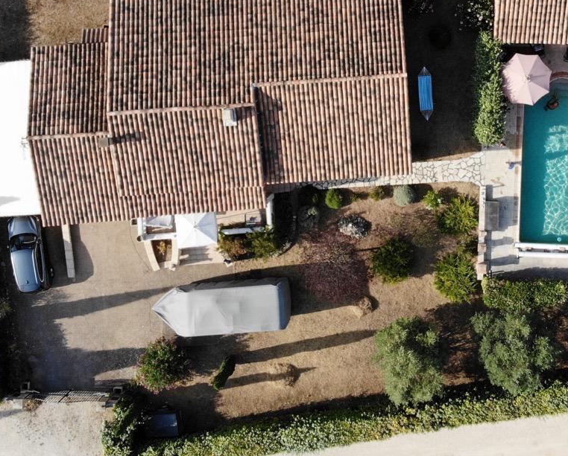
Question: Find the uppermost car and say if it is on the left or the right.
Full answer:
It is on the left.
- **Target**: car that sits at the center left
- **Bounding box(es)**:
[3,216,51,295]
